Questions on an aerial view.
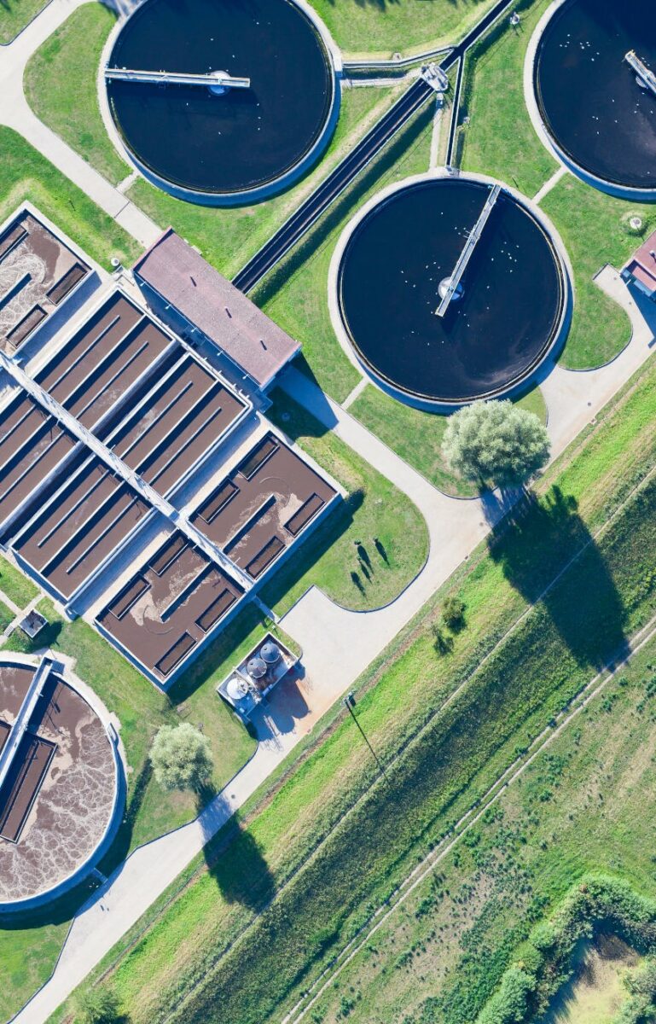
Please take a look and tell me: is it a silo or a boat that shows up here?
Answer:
silo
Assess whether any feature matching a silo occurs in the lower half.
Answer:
Yes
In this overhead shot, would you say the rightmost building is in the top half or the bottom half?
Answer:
top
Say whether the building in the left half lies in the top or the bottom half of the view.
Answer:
top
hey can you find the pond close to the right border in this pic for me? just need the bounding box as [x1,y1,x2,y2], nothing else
[540,927,633,1024]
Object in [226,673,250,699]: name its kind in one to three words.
silo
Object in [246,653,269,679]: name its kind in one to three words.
silo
